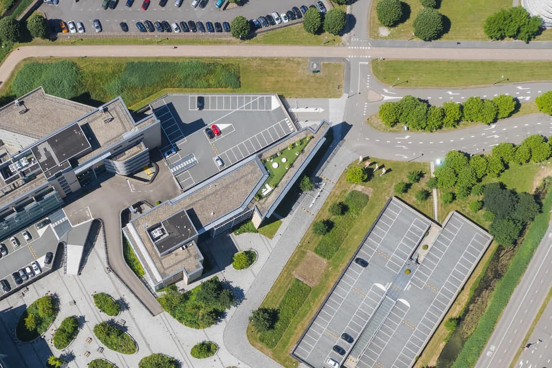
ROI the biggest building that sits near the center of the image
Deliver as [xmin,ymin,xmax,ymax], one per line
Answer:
[123,120,331,290]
